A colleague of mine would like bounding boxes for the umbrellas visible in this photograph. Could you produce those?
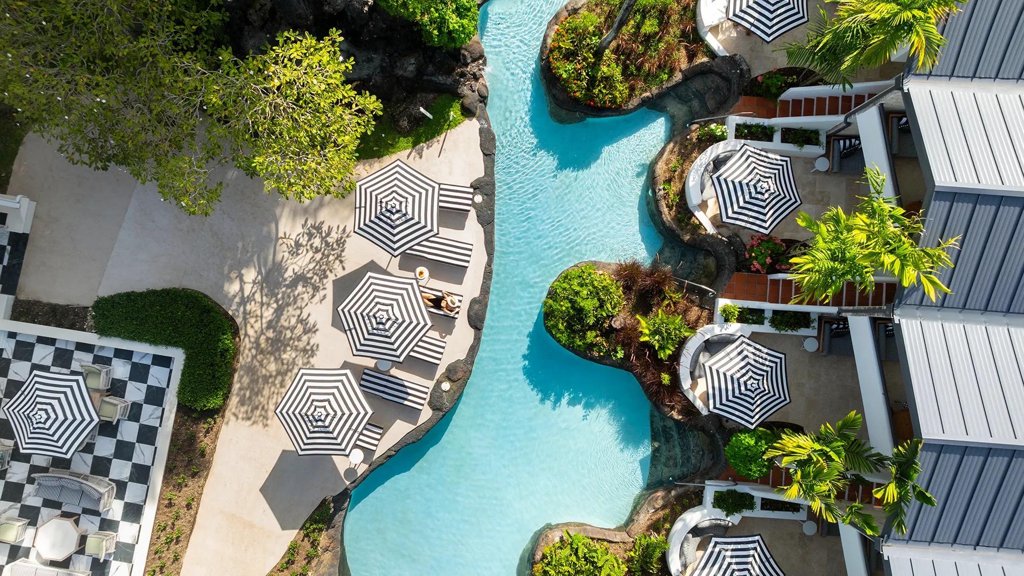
[705,144,799,235]
[273,365,372,453]
[336,271,431,363]
[728,0,809,42]
[2,366,105,458]
[351,162,437,260]
[690,530,788,576]
[704,334,792,430]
